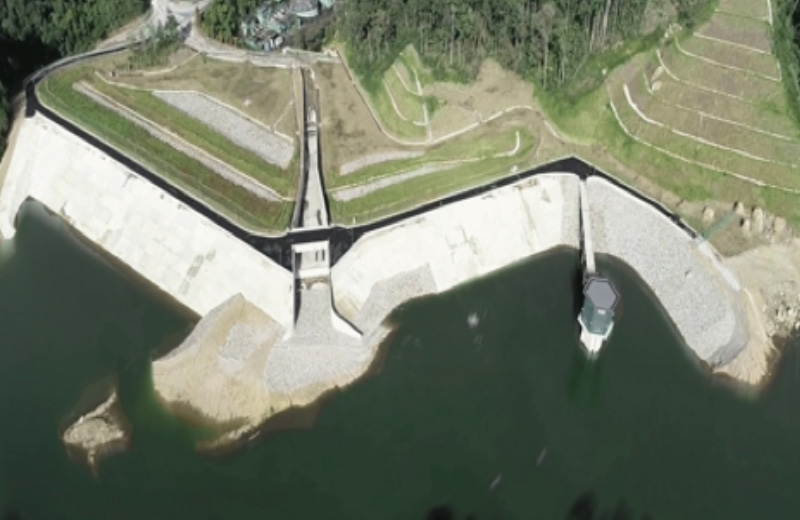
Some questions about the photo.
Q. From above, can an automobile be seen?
No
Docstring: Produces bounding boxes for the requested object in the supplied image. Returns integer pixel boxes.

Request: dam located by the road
[0,72,748,369]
